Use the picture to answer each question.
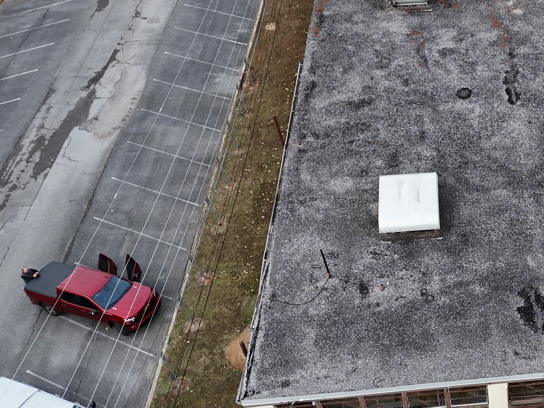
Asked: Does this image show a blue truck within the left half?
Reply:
No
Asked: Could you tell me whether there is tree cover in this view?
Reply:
No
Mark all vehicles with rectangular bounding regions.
[24,252,167,336]
[0,377,81,408]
